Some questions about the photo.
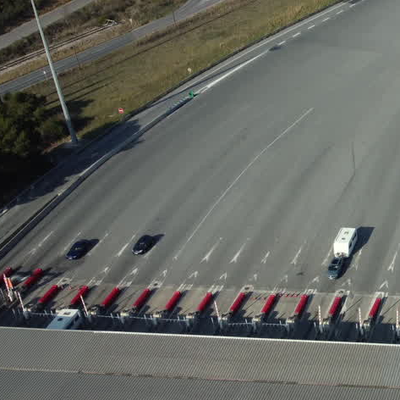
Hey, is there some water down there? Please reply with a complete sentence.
No, the scene doesn't show any water.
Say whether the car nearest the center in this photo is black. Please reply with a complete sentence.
Yes, the car nearest the center is indeed black.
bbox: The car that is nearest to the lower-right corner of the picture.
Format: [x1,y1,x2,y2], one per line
[328,254,346,278]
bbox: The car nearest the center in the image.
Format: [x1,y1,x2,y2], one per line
[131,236,157,256]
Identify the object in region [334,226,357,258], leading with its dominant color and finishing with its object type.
white camper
